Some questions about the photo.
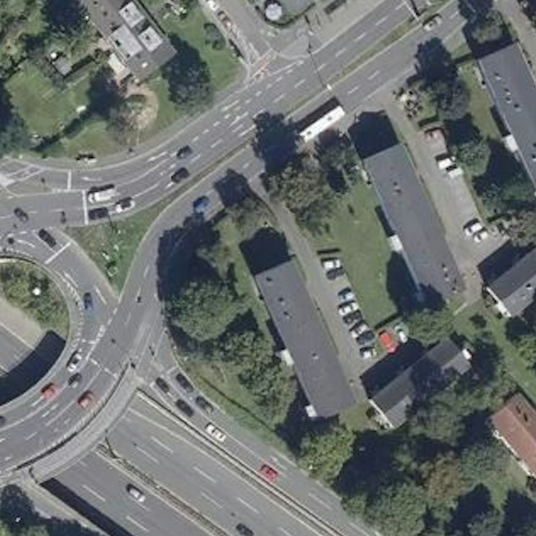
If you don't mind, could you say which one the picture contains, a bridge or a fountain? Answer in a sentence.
The one in the frame is a bridge.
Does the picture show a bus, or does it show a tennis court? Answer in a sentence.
Of the two, only a bus appears.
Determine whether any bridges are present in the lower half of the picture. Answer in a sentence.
Yes, I can see a bridge in the lower half of the picture.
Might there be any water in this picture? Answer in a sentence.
No, the picture contains no water.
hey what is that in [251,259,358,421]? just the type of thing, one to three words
building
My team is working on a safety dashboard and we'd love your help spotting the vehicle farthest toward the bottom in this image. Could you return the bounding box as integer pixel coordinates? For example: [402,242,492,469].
[235,523,255,536]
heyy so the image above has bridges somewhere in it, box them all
[1,328,141,499]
